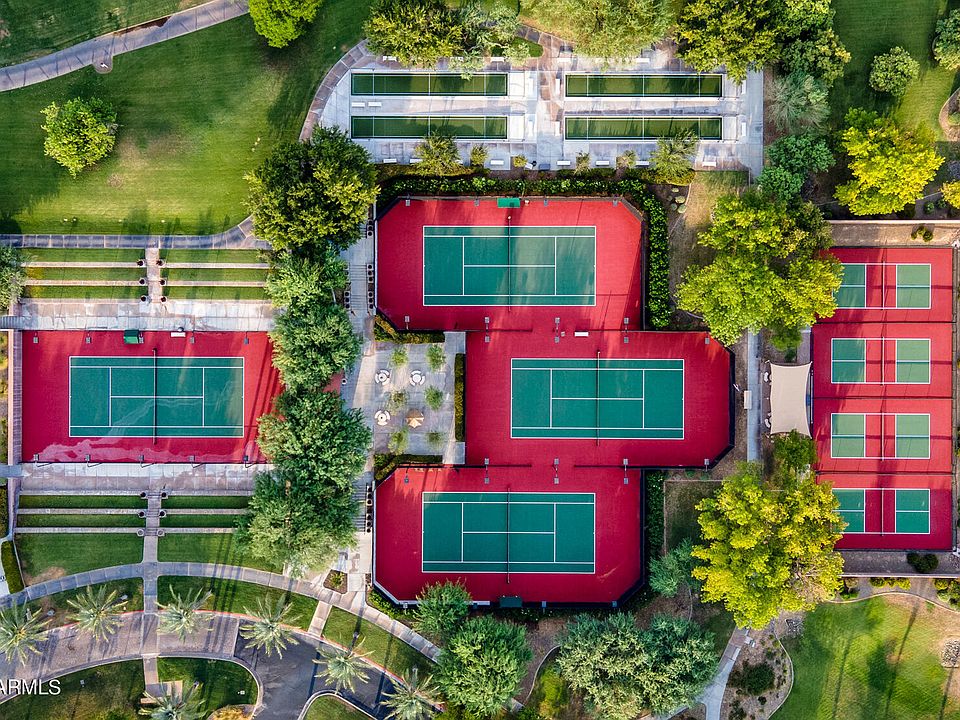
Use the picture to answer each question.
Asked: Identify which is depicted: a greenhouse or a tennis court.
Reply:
tennis court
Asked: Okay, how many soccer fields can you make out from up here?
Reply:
none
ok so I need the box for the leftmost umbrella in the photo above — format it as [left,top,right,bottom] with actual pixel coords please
[404,412,423,431]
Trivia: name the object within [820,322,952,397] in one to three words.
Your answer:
sports court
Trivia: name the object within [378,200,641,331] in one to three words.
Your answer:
tennis court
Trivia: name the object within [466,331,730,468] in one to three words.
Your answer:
tennis court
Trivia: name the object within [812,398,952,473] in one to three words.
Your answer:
sports court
